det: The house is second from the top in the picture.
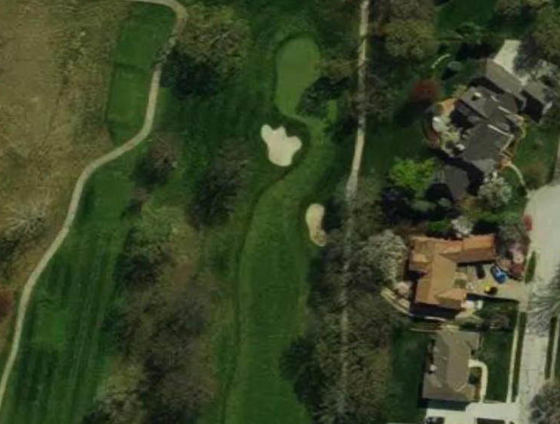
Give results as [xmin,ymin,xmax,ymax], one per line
[410,235,497,311]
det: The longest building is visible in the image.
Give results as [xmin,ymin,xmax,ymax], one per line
[438,53,559,200]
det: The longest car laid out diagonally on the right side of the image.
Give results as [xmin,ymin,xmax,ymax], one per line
[490,266,506,283]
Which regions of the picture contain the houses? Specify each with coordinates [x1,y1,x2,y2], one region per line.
[421,329,482,404]
[410,235,497,311]
[438,53,559,200]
